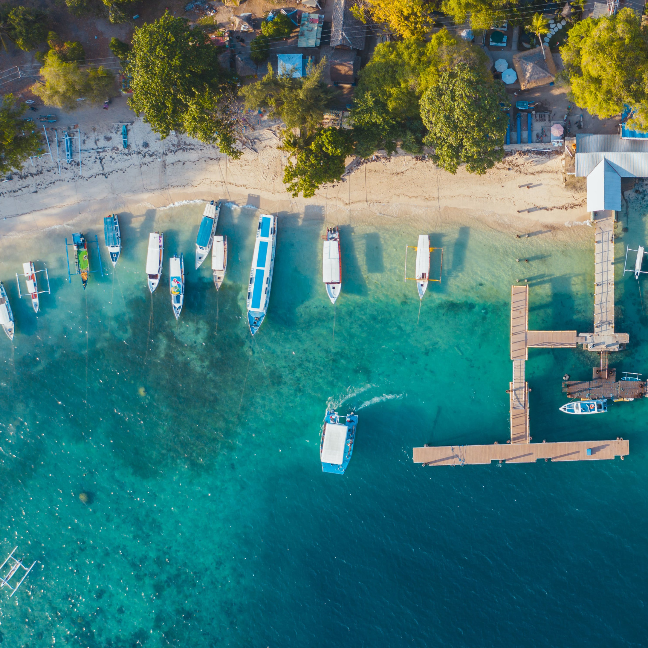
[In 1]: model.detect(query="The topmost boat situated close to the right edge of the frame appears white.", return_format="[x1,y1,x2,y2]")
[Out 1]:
[623,246,648,284]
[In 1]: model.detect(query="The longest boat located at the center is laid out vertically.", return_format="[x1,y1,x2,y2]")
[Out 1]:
[243,214,280,396]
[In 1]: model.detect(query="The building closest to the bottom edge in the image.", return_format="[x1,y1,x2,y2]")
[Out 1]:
[575,133,648,224]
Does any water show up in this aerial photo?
Yes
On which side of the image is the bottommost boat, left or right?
left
